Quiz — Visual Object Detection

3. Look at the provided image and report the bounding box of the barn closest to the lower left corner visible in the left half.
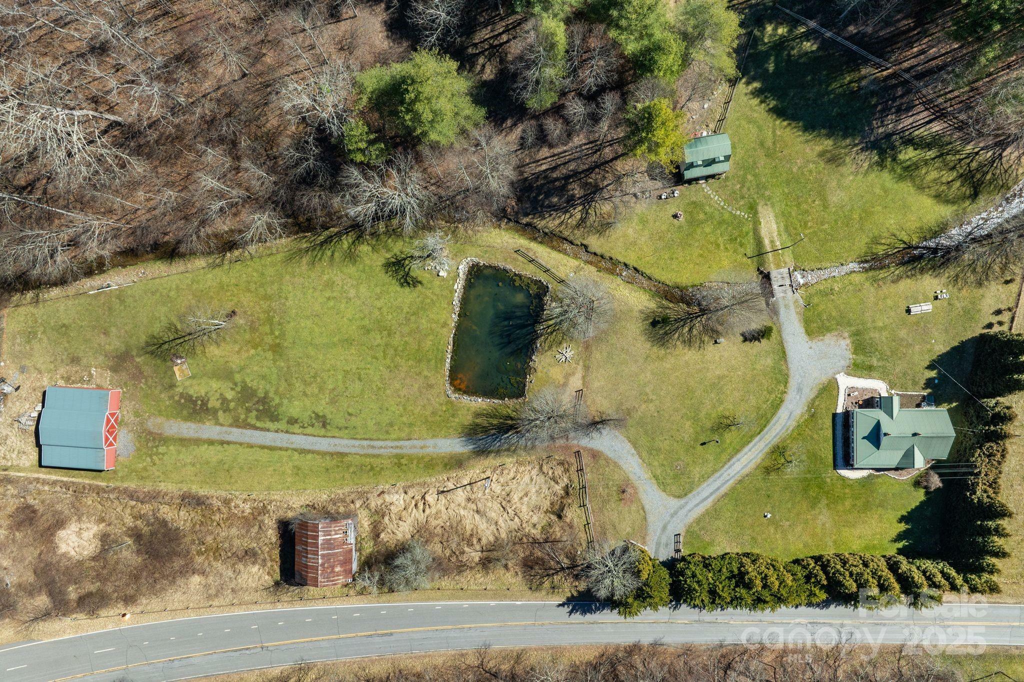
[39,386,122,470]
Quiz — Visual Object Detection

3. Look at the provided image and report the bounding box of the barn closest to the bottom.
[295,517,358,588]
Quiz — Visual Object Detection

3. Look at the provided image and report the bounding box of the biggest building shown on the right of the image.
[846,396,956,469]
